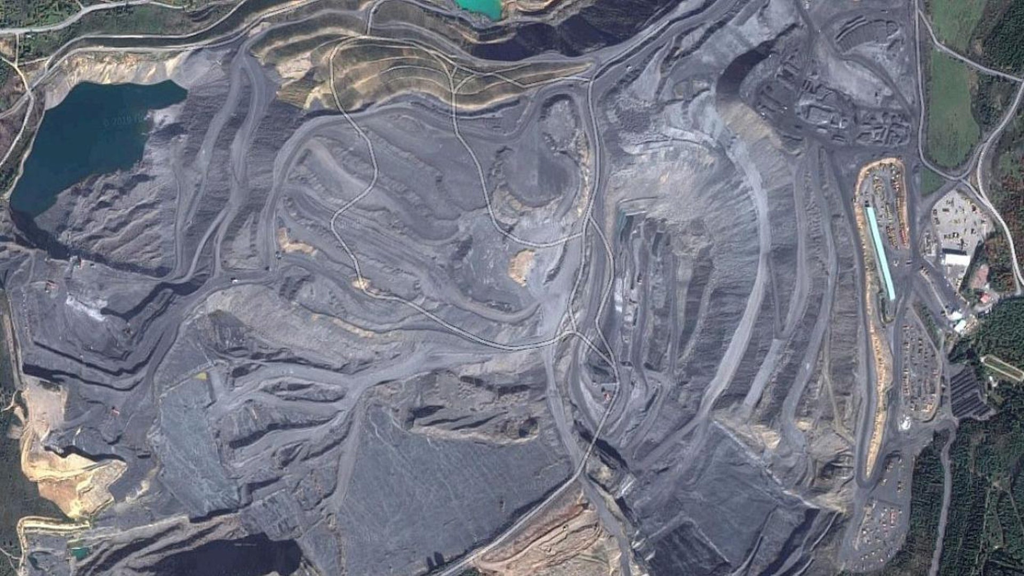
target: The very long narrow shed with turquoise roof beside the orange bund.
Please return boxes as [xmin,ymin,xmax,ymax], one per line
[867,207,896,300]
